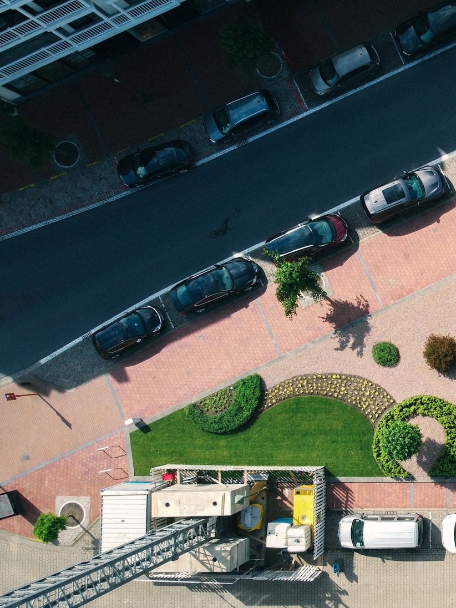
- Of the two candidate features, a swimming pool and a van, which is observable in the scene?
van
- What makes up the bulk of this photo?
paved ground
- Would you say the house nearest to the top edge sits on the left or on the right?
left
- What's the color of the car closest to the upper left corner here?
black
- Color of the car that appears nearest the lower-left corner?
black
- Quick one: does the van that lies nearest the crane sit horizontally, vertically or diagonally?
horizontally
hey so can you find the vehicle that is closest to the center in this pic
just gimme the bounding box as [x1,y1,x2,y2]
[169,258,264,315]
